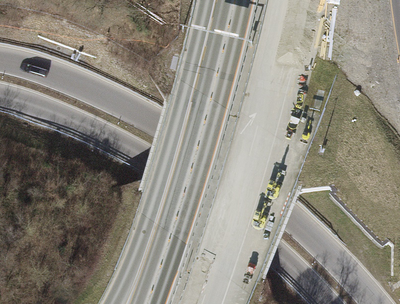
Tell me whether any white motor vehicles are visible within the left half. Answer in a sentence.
No, looking within the left half, there is no white motor vehicle.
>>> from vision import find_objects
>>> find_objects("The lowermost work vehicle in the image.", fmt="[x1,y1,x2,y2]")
[243,261,258,284]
